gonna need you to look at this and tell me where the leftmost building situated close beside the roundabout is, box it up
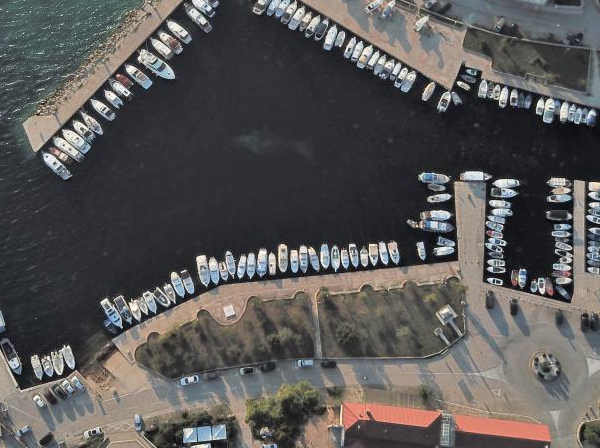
[330,399,442,448]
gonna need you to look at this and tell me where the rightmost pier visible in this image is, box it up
[571,180,600,313]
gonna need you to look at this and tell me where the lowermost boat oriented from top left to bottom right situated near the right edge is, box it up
[554,283,571,300]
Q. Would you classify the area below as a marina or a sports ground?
marina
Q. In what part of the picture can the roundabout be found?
bottom right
